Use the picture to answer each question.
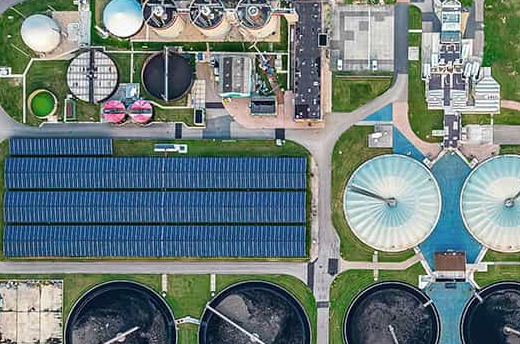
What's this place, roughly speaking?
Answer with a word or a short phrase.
industrial area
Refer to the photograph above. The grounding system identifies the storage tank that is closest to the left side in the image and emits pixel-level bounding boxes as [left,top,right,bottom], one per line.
[29,89,59,123]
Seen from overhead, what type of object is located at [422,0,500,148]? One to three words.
building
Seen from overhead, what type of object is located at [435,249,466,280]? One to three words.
building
